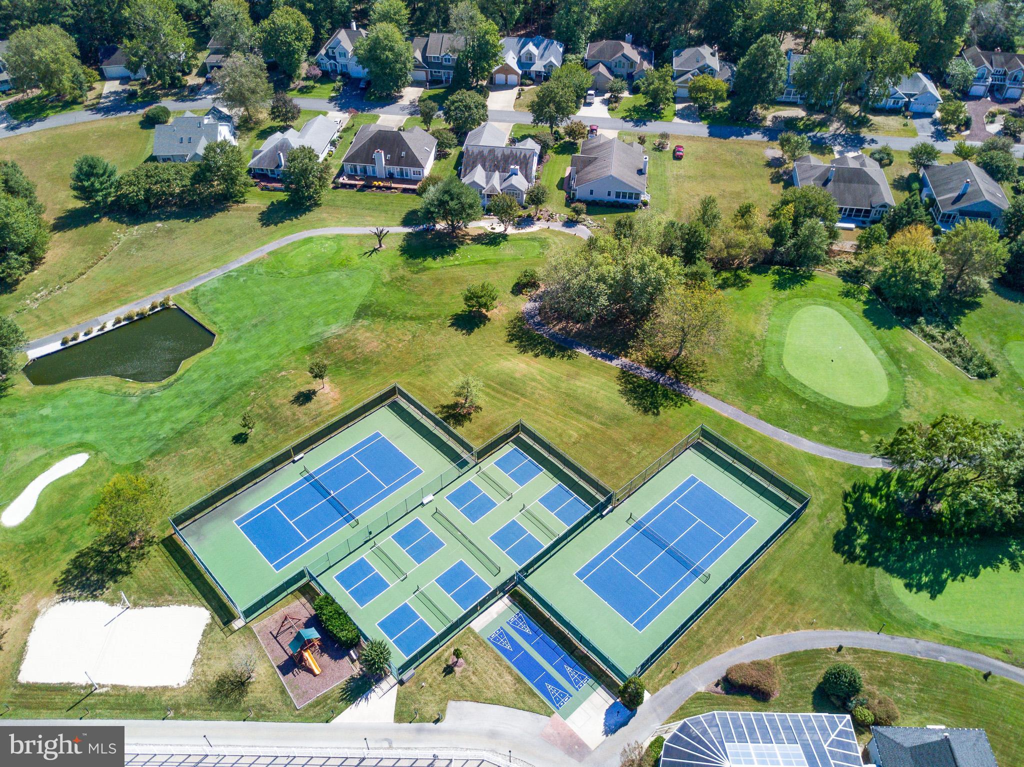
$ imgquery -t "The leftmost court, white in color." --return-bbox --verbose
[18,590,209,689]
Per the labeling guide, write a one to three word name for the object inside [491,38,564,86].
house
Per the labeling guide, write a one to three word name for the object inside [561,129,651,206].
house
